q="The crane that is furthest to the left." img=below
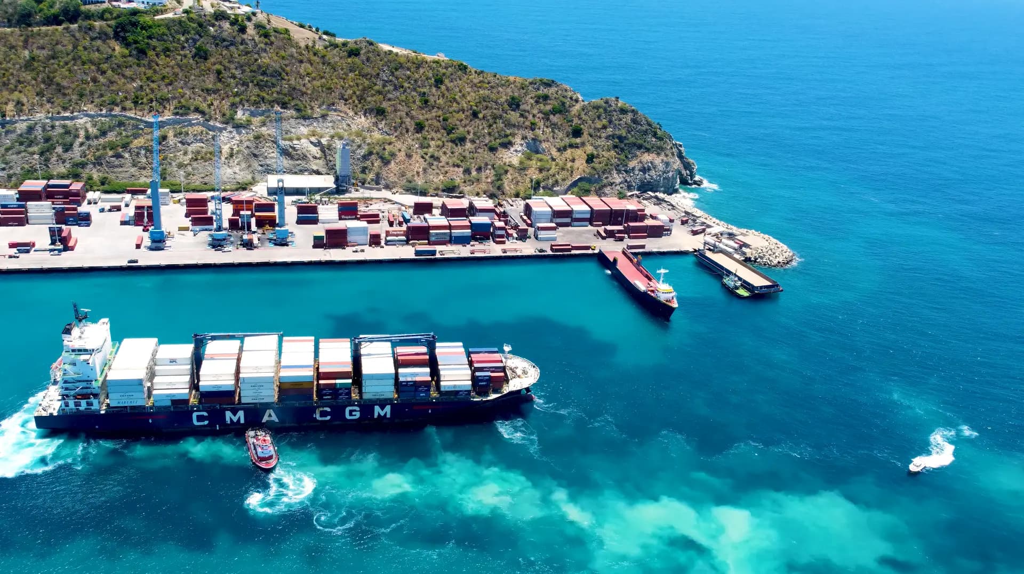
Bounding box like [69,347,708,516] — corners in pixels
[142,108,176,248]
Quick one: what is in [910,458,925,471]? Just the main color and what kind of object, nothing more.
white boat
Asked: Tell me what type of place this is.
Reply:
port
